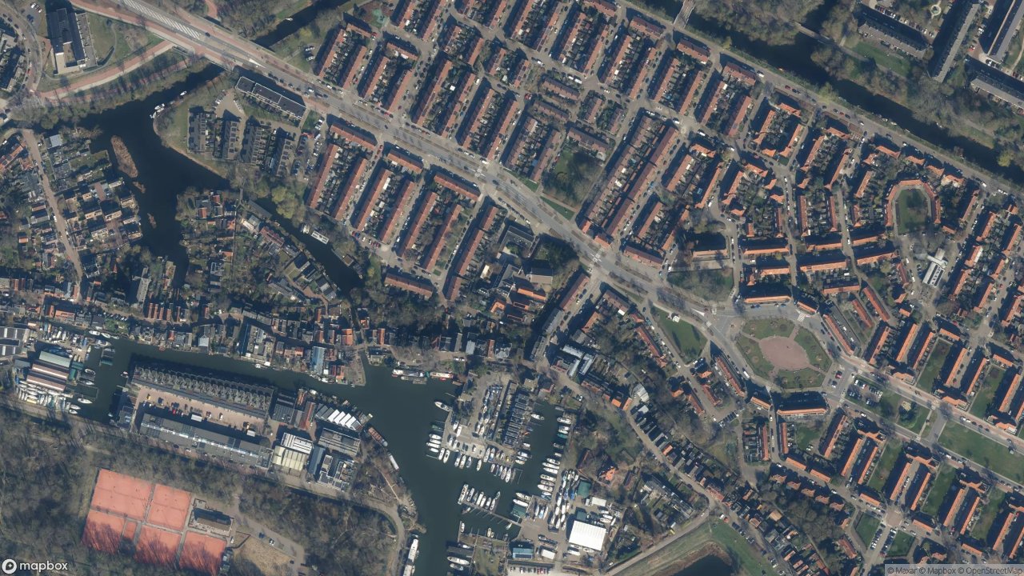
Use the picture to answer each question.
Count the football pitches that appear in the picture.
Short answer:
0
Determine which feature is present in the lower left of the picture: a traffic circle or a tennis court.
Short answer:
tennis court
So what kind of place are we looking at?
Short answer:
residential area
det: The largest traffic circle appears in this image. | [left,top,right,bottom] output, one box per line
[724,308,845,400]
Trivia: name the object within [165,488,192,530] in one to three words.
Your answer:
tennis court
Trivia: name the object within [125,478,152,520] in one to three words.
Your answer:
tennis court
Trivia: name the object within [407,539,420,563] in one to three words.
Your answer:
ship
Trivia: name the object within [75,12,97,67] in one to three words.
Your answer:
building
